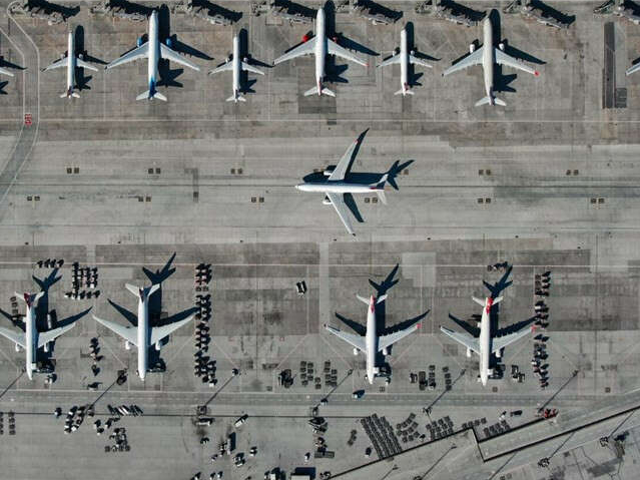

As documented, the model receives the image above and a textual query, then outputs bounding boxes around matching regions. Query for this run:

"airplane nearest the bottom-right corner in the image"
[440,300,535,385]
